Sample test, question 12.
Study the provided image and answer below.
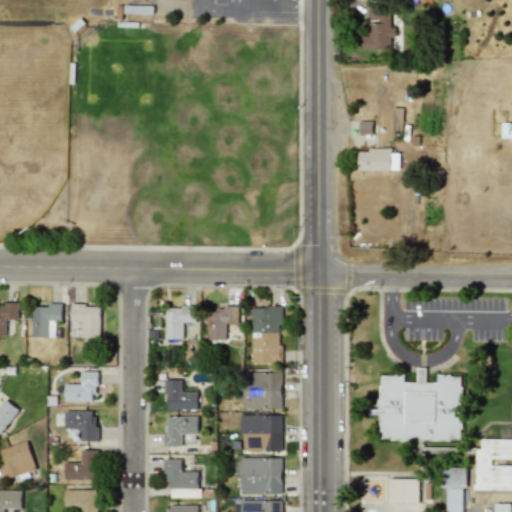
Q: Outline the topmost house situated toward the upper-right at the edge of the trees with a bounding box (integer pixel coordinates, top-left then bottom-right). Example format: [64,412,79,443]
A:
[363,13,399,50]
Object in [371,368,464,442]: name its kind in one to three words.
building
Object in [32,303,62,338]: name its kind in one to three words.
house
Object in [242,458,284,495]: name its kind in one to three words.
house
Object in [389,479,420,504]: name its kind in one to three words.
building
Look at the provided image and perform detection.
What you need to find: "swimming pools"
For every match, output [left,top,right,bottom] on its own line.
[442,3,453,14]
[192,373,212,383]
[208,499,216,512]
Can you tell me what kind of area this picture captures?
residential area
